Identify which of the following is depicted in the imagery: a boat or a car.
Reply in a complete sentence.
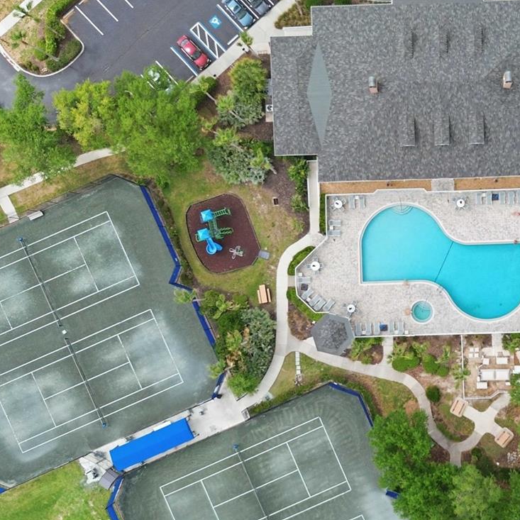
Visible in the photo is a car.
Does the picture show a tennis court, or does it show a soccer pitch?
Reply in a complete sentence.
It is a tennis court that can be seen here.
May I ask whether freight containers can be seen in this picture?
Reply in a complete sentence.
No, the picture doesn't show any freight container.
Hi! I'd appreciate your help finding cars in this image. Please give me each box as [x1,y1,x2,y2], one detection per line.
[246,0,268,14]
[221,0,252,27]
[141,59,161,86]
[174,33,208,68]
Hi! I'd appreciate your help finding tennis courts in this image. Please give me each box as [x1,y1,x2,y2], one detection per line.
[131,387,408,520]
[0,181,221,395]
[0,304,211,483]
[116,475,235,520]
